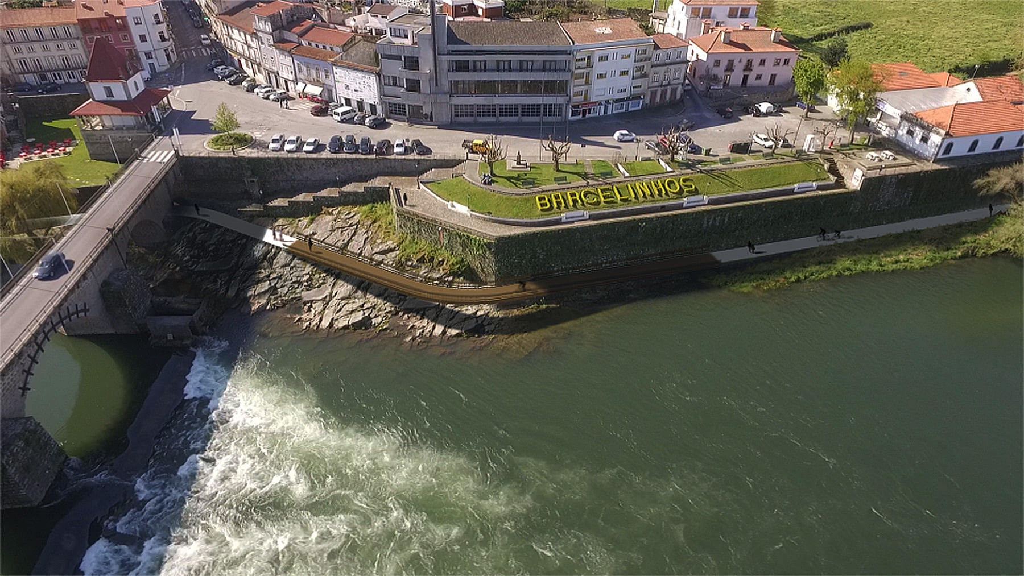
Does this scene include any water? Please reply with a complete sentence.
Yes, some water is visible.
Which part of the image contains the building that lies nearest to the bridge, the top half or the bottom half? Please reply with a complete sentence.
Seen from above, the building that lies nearest to the bridge lies in the top half of the view.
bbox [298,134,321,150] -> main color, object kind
white car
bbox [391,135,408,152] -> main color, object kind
white car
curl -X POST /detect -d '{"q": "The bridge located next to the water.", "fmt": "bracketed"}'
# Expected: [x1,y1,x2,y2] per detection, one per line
[0,139,192,546]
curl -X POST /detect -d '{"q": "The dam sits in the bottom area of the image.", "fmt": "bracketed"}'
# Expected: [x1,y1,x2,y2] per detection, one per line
[40,344,200,576]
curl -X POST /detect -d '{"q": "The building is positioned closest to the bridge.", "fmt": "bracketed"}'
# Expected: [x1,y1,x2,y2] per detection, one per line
[68,37,171,160]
